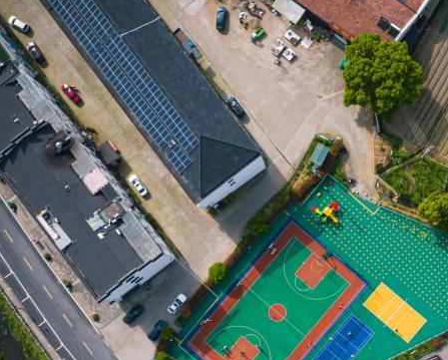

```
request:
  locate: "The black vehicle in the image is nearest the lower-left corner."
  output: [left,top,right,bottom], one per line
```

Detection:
[122,303,145,324]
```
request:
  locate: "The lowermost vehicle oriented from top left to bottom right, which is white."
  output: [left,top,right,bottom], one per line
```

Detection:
[128,174,148,197]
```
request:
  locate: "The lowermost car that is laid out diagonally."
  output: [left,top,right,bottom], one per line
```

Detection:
[146,319,169,340]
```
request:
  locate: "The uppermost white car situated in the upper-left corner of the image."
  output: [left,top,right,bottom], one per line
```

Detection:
[7,14,31,34]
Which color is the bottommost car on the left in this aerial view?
black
